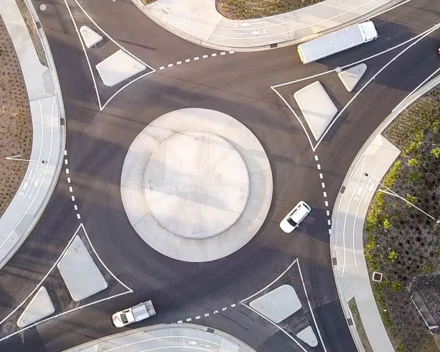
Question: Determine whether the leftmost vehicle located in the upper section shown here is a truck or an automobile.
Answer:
truck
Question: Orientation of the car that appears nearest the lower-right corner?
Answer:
diagonally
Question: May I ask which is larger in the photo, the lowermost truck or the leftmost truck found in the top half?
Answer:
the leftmost truck found in the top half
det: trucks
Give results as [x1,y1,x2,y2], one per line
[112,299,157,327]
[291,19,377,67]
